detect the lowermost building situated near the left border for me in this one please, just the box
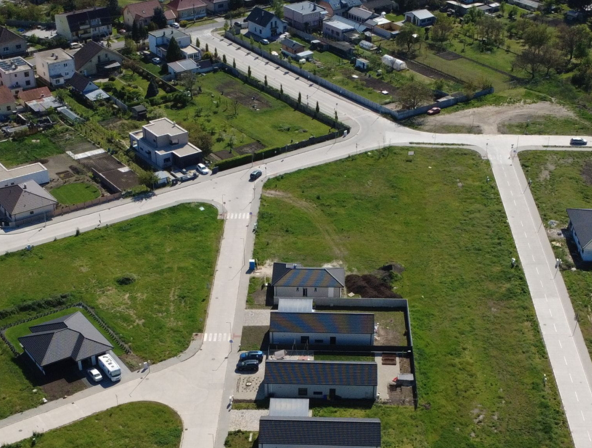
[22,309,114,376]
